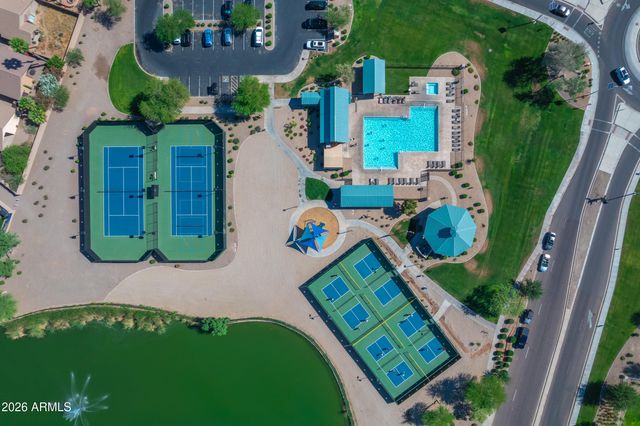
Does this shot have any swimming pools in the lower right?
No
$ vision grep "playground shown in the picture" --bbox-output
[289,202,345,258]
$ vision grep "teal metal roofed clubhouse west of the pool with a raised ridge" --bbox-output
[302,84,349,143]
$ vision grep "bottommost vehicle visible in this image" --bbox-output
[516,326,529,349]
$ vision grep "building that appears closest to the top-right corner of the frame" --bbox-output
[363,57,386,96]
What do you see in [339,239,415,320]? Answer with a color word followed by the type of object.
green sports court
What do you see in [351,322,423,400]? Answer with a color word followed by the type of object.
green sports court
